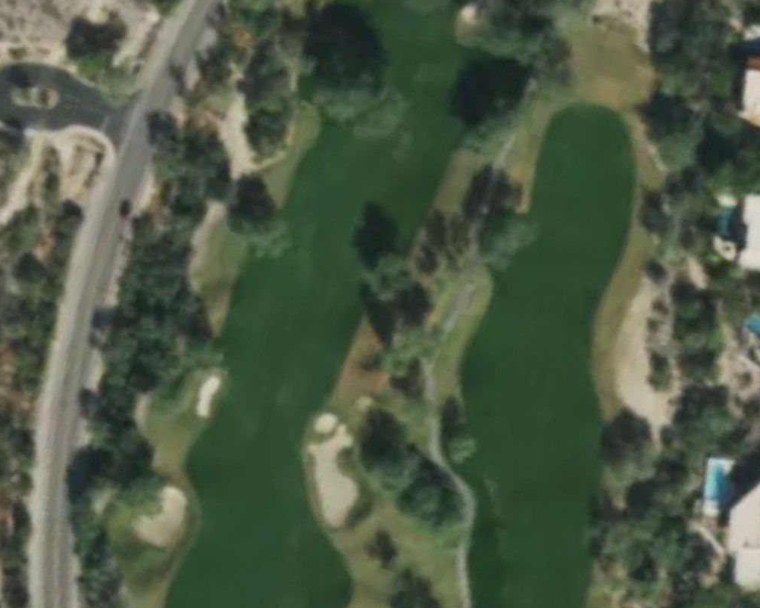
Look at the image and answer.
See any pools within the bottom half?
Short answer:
Yes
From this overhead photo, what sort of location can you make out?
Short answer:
golf course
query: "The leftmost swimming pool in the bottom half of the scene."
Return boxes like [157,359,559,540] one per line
[703,458,734,516]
